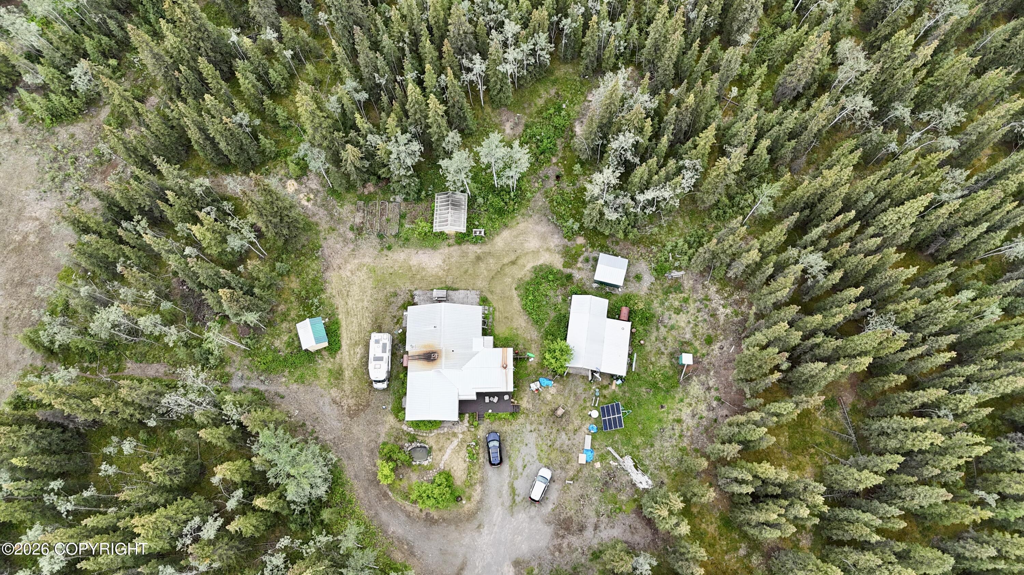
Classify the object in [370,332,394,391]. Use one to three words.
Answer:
camper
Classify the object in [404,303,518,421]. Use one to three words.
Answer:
house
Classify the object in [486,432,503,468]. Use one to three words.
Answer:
car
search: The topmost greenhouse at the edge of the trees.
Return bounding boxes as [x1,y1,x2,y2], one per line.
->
[434,190,467,242]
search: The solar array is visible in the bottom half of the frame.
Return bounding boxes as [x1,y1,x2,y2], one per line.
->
[600,400,632,432]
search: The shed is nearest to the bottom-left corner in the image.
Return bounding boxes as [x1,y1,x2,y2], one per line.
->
[296,316,330,354]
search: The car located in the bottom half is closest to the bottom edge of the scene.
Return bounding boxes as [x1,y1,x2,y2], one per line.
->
[529,467,551,505]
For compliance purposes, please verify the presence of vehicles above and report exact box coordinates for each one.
[529,467,551,505]
[370,332,394,391]
[486,432,503,468]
